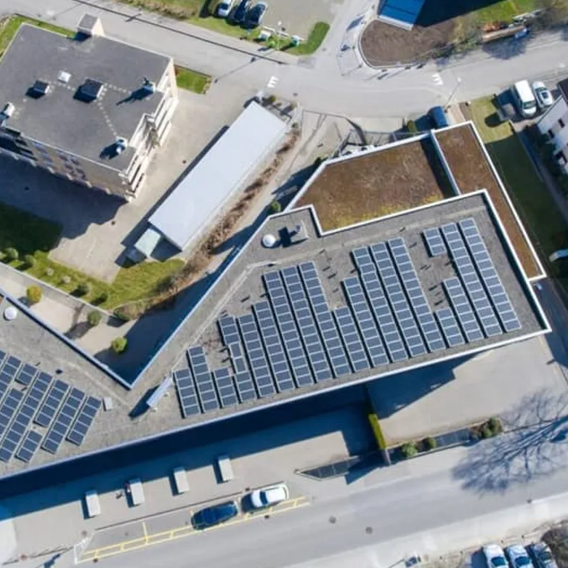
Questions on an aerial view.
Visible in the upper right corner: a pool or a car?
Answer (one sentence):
The one visible in the upper right corner is a car.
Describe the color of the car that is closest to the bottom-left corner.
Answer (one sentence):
From above, the car that is closest to the bottom-left corner appears blue.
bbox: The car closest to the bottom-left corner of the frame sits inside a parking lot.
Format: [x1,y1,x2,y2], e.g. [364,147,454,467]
[194,503,235,527]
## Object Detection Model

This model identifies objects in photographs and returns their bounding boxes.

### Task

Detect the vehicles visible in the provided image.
[529,539,556,568]
[247,485,287,509]
[250,0,271,28]
[483,546,508,568]
[531,81,553,110]
[217,0,236,19]
[428,104,447,132]
[194,503,235,527]
[511,78,537,116]
[506,543,531,568]
[234,0,254,25]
